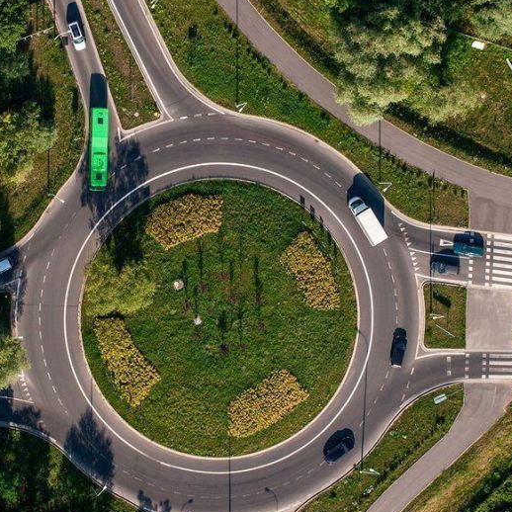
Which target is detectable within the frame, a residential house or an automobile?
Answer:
automobile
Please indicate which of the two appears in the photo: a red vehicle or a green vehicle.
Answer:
green vehicle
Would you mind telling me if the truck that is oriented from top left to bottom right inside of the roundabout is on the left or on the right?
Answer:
right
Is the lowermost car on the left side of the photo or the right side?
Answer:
right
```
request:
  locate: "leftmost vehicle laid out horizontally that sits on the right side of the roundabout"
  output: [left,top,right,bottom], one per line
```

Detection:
[430,260,460,275]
